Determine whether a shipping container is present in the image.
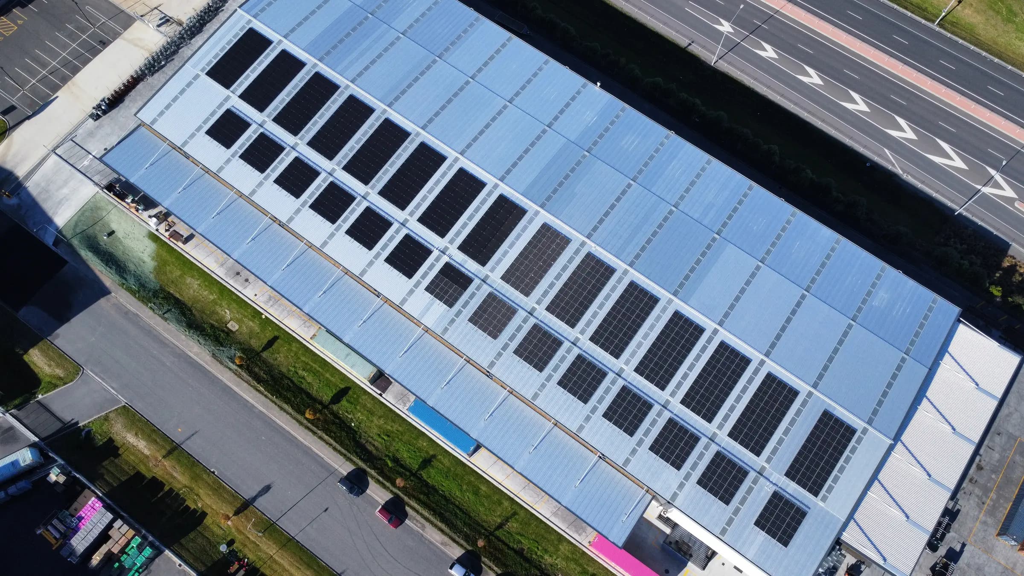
Yes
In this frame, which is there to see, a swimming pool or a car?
car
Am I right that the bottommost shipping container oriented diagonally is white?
No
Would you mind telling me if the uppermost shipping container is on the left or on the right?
left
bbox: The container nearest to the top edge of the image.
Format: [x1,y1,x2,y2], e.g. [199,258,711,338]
[311,328,379,383]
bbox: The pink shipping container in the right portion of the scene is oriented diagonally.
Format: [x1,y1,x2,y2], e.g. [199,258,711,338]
[588,534,657,576]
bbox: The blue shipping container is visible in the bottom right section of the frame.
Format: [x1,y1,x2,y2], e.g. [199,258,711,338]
[996,476,1024,545]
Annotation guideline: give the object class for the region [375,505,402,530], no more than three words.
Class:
car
